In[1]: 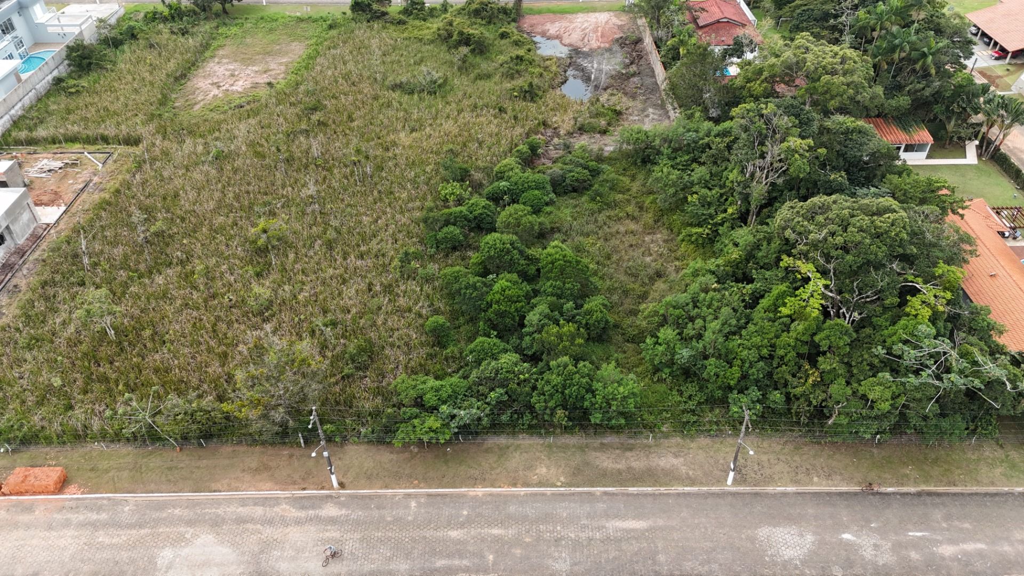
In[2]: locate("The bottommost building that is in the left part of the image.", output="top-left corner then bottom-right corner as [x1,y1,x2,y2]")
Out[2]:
[0,187,38,268]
